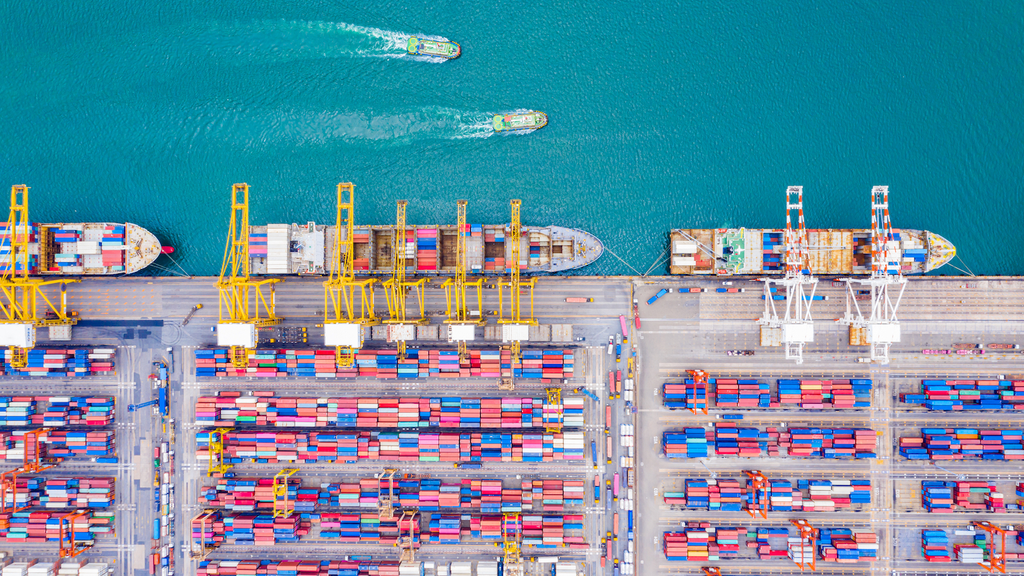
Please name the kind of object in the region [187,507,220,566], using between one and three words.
container crane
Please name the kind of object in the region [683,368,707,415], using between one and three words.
container crane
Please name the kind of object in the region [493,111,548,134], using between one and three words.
boat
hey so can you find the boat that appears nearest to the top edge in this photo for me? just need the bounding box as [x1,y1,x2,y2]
[407,34,462,60]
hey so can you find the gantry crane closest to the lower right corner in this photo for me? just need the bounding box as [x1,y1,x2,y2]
[968,517,1009,573]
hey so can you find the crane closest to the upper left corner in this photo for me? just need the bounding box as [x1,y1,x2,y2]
[0,184,78,369]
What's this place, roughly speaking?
port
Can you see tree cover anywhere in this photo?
No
